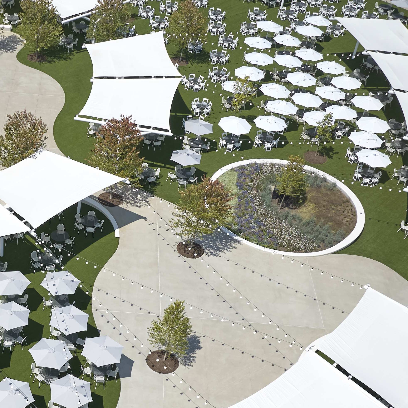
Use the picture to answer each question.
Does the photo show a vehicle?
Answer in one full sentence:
No, this view has no vehicle in it.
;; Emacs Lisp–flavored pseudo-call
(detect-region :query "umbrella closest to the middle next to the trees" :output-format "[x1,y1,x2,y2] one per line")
[169,150,201,184]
